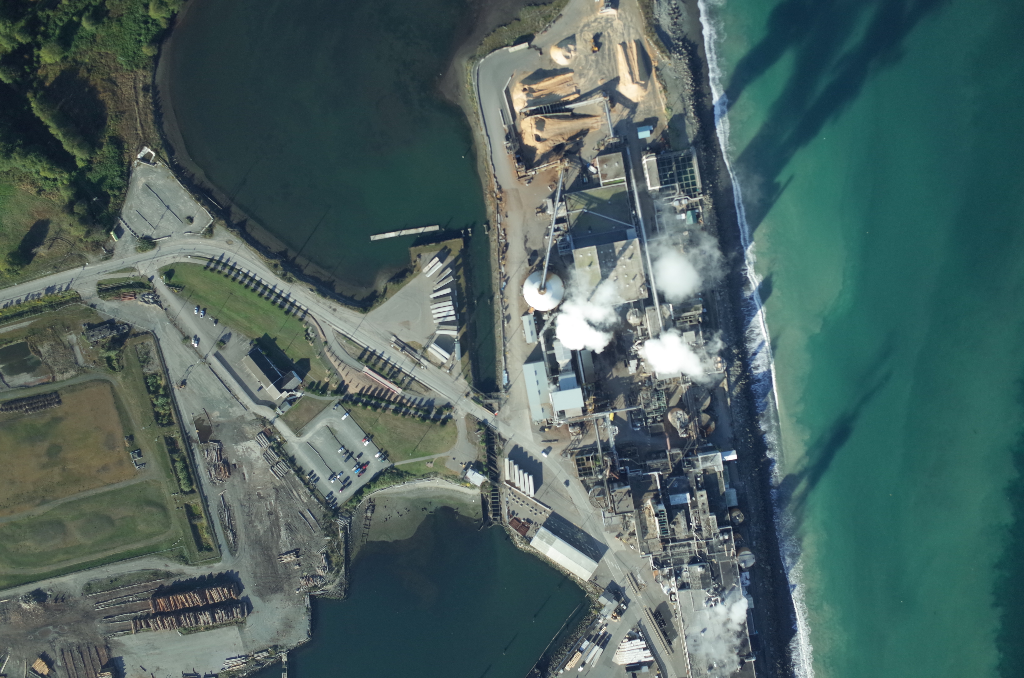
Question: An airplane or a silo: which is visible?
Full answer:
The image shows a silo.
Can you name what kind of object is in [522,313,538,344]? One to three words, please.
shed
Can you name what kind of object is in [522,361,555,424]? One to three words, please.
shed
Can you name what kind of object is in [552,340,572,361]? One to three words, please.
building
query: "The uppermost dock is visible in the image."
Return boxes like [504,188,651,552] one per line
[369,225,444,243]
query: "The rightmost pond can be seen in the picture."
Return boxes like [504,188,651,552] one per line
[172,0,503,390]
